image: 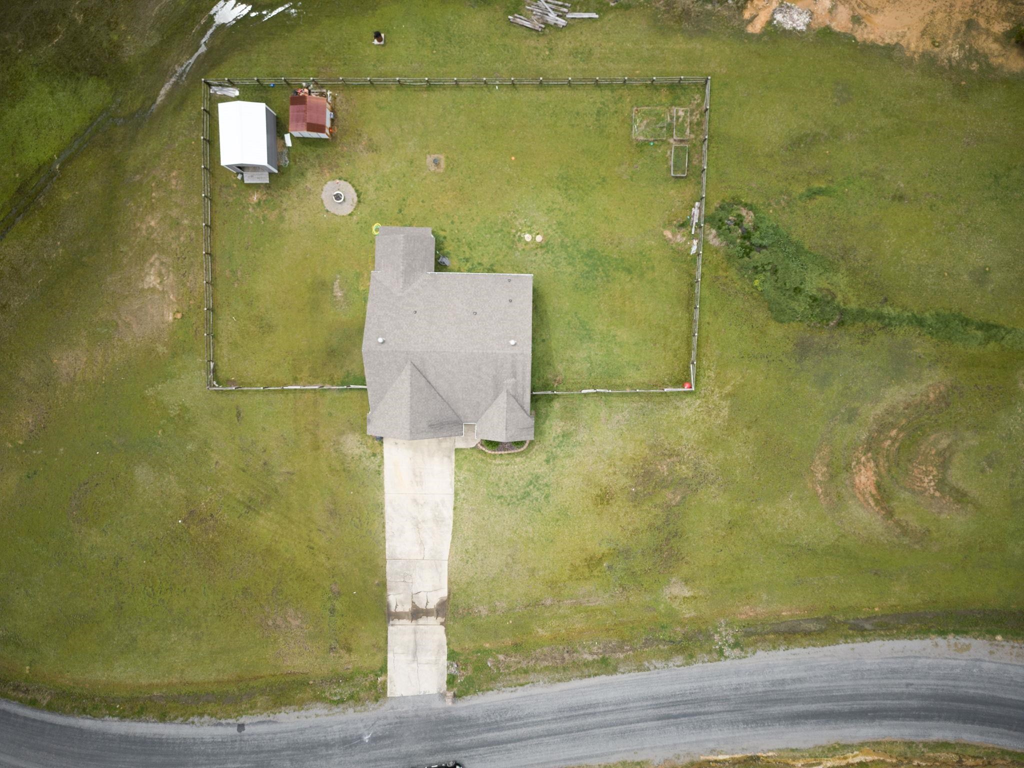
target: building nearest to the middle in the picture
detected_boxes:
[362,227,534,441]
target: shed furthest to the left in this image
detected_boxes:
[218,100,277,173]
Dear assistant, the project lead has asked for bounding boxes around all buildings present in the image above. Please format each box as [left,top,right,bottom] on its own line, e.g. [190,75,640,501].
[362,227,534,441]
[218,100,277,173]
[289,95,331,139]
